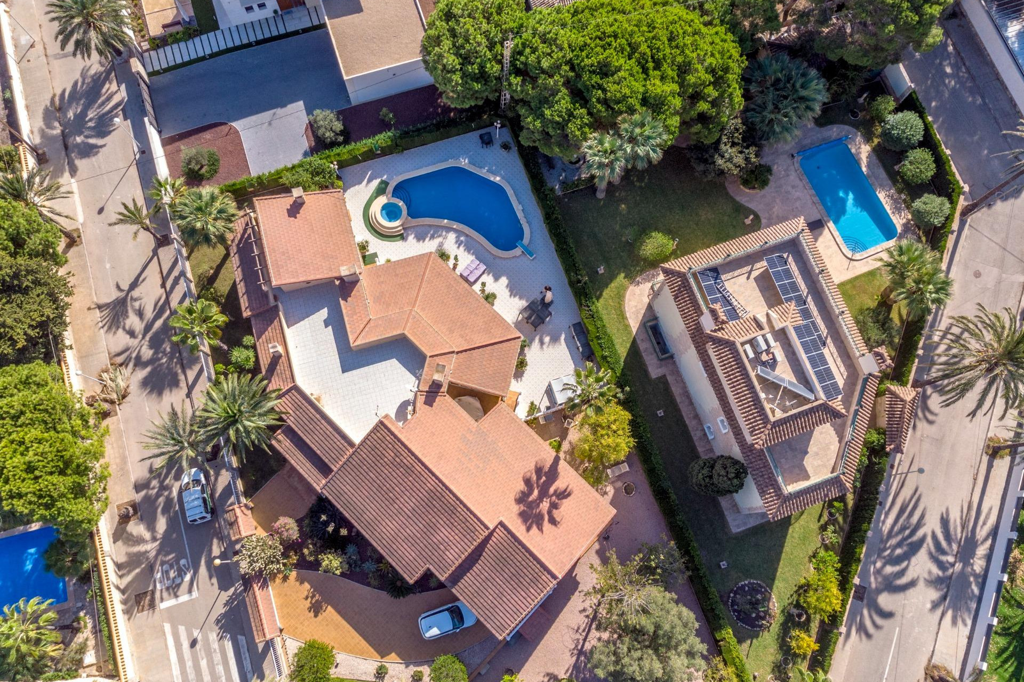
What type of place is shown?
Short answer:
residential area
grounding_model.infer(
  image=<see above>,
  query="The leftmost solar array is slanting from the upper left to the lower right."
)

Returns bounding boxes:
[697,268,740,324]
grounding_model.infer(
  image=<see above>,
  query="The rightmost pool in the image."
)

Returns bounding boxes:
[793,136,903,258]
